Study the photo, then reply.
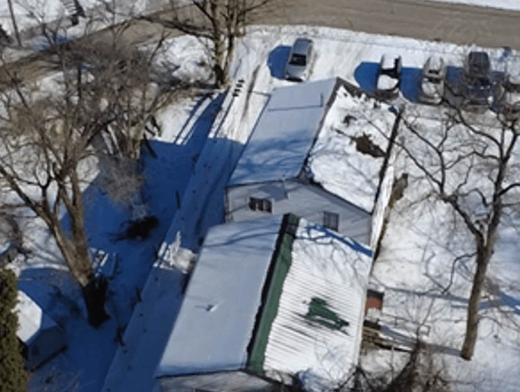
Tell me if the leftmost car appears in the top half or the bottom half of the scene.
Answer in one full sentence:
You can find the leftmost car in the top half.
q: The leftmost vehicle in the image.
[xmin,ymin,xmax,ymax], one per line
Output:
[283,41,315,76]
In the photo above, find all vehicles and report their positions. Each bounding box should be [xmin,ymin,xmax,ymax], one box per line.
[283,41,315,76]
[418,63,446,102]
[464,55,495,104]
[373,58,401,96]
[501,71,520,109]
